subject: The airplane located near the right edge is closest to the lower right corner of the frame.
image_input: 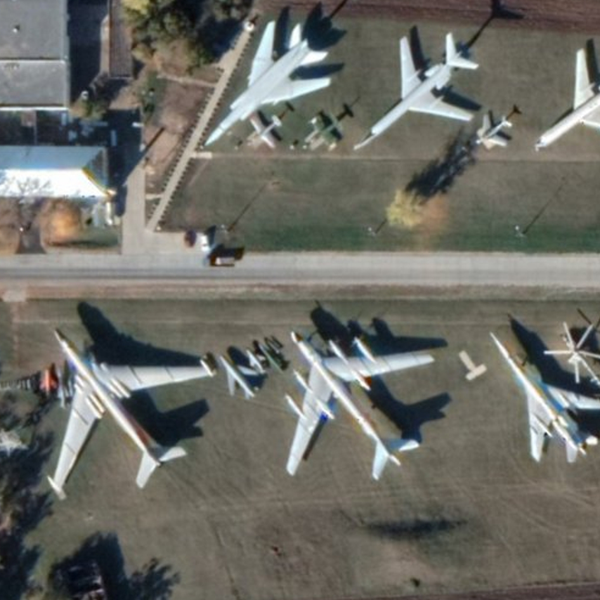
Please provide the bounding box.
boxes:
[489,332,600,464]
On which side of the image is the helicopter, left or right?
right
